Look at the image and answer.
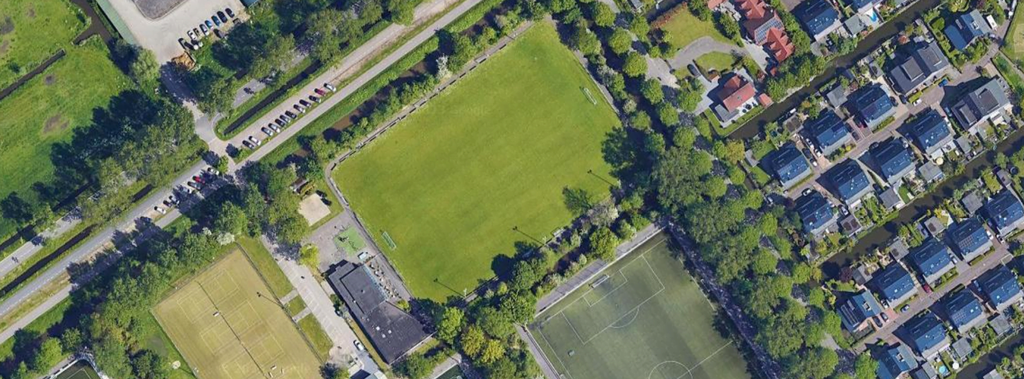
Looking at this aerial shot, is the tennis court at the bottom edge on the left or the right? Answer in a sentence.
The tennis court at the bottom edge sits on the left side.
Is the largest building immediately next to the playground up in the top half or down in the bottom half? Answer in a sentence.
It is in the bottom half that the largest building immediately next to the playground appears.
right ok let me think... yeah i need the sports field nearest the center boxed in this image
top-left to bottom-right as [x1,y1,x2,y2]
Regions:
[333,21,643,321]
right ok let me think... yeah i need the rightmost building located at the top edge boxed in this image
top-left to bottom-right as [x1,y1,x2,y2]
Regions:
[944,10,991,51]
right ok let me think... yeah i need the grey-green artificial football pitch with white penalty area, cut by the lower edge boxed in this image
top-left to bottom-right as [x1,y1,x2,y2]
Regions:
[528,229,760,379]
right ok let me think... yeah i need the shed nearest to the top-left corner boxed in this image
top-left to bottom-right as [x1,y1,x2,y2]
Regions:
[98,0,140,46]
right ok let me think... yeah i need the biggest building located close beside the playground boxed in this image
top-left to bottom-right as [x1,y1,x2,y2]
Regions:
[329,262,434,365]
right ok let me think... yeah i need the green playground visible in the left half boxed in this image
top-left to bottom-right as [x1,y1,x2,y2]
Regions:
[334,226,366,257]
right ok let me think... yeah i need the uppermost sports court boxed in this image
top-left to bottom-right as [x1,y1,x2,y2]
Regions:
[300,193,331,223]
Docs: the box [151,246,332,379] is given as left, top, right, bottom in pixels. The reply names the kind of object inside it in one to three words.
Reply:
tennis court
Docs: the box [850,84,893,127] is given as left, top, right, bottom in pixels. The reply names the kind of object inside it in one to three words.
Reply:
house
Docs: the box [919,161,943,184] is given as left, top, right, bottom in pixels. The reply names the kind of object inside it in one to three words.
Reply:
shed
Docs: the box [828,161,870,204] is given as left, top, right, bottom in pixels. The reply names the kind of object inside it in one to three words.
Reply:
house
